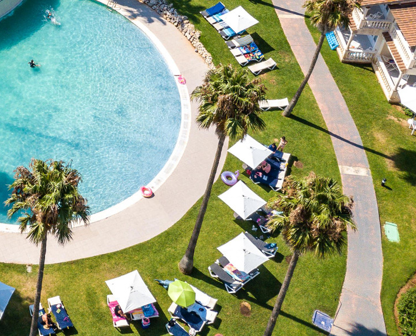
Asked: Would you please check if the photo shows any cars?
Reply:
No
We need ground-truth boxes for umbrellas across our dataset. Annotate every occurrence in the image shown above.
[228,135,272,177]
[104,267,155,318]
[219,10,257,47]
[218,232,267,281]
[164,279,200,313]
[218,179,265,225]
[0,279,17,321]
